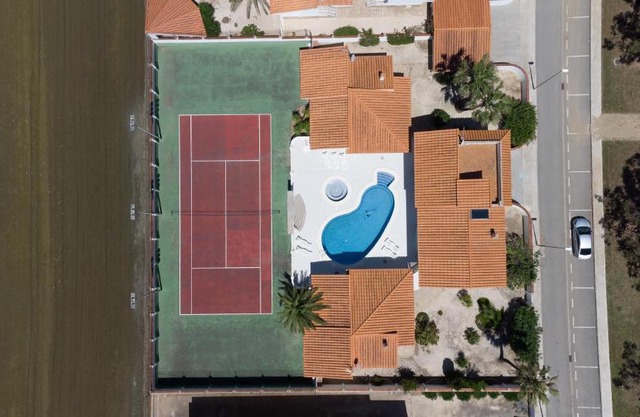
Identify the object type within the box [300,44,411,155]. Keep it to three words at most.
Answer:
house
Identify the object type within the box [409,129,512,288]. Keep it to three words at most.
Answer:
house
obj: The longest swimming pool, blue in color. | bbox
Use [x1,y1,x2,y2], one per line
[318,168,399,268]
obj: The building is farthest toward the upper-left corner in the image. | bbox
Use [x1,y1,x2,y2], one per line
[147,0,208,42]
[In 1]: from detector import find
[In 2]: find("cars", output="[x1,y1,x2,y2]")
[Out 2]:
[571,218,594,258]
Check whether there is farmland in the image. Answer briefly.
Yes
